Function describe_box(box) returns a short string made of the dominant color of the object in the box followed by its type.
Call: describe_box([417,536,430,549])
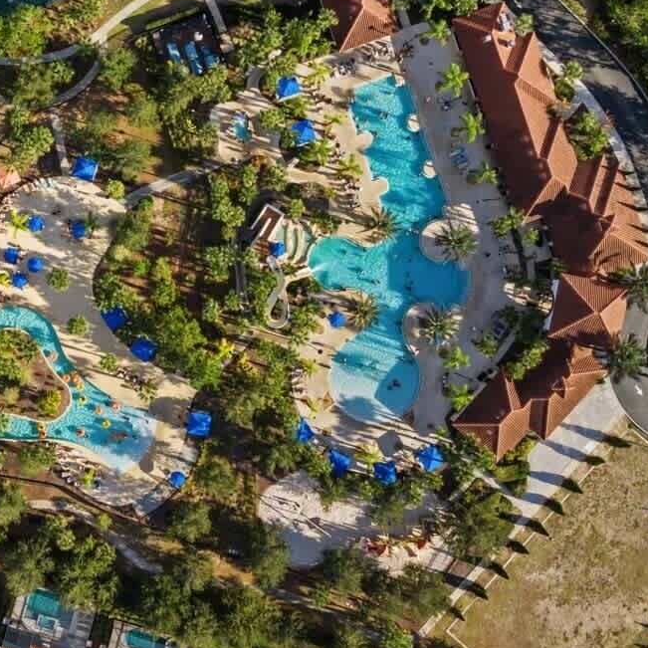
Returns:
red umbrella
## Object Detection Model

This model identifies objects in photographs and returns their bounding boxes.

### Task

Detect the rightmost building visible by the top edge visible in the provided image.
[453,0,578,220]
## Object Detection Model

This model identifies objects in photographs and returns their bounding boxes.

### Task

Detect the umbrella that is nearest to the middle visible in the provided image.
[327,311,344,327]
